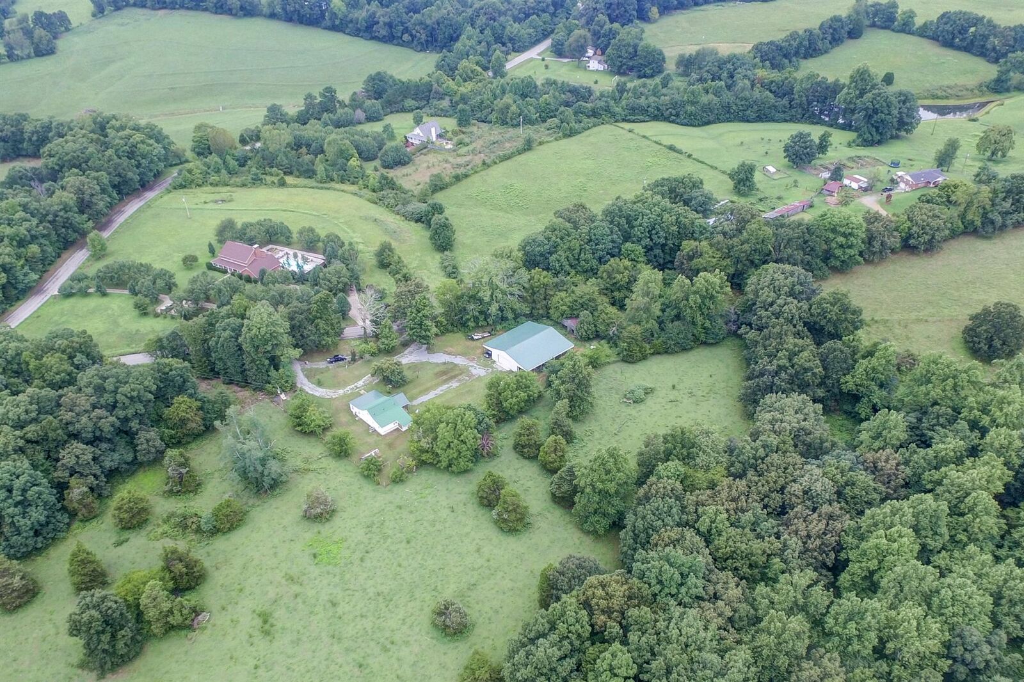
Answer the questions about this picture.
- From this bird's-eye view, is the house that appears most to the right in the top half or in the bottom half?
top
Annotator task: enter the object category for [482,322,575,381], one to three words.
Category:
barn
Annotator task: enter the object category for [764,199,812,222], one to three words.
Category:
shed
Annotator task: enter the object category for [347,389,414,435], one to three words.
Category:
house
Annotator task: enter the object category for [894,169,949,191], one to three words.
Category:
house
